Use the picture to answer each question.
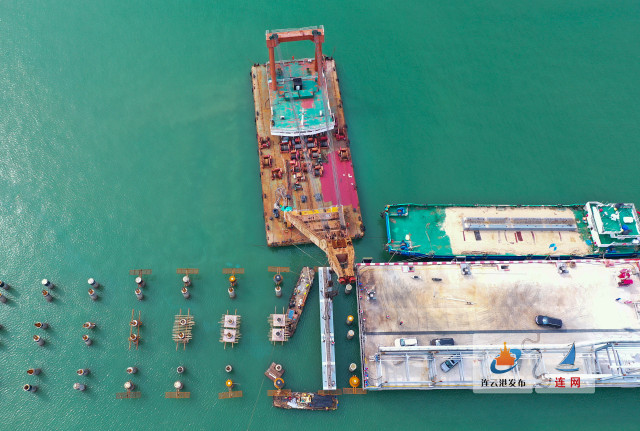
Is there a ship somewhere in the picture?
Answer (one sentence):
Yes, there is a ship in the image.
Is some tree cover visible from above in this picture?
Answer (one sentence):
No, tree cover can't be seen anywhere here.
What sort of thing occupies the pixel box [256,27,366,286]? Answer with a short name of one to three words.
ship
